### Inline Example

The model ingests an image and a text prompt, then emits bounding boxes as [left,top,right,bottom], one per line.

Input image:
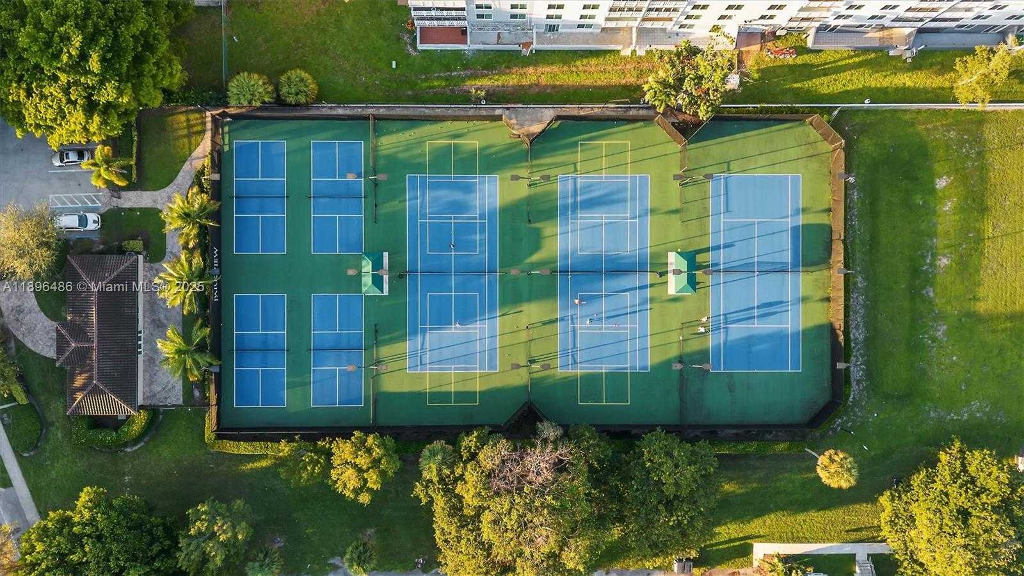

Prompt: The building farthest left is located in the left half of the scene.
[55,254,146,421]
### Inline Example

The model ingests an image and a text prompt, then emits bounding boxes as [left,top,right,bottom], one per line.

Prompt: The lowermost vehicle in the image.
[56,212,102,231]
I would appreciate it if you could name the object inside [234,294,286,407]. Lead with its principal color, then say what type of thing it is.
blue sports court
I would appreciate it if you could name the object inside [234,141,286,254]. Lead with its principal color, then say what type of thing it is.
blue sports court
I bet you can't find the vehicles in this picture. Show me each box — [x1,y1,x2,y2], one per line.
[56,212,102,231]
[52,150,94,168]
